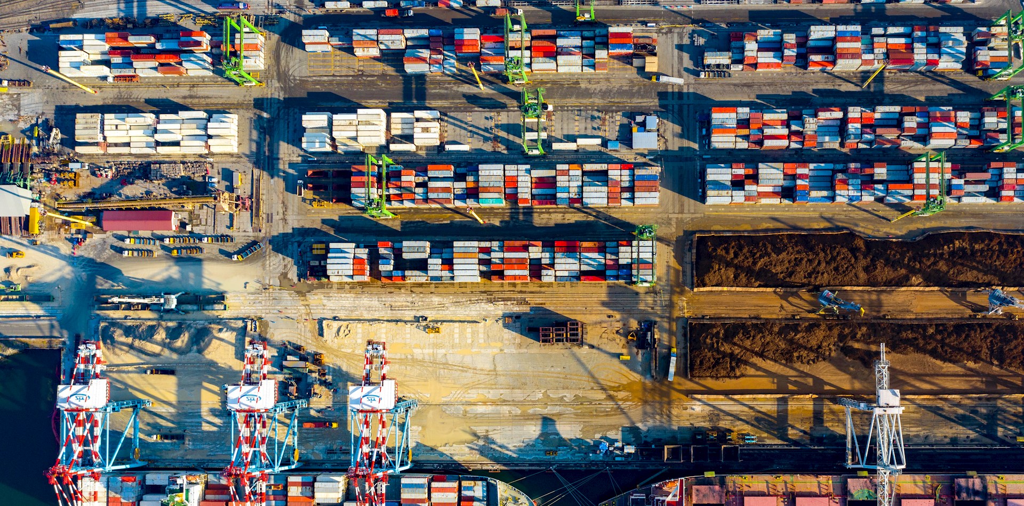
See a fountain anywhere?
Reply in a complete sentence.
No, I can't see a single fountain in this photo.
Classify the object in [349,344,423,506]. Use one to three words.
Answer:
container crane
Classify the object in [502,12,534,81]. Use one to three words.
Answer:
container crane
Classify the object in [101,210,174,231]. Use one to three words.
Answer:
shed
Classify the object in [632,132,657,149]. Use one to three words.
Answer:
shed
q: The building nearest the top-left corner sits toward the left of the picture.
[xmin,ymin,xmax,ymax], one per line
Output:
[0,184,38,218]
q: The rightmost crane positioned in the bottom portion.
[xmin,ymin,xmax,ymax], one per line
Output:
[984,291,1024,320]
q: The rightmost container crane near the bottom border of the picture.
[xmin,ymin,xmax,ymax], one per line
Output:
[836,344,907,506]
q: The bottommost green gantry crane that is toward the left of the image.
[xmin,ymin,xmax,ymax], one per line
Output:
[364,154,400,216]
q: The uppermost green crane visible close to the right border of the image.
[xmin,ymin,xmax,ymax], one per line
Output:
[985,8,1024,79]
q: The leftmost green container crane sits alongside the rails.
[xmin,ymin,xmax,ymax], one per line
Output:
[223,15,264,81]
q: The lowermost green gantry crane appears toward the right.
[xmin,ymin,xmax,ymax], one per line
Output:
[630,223,660,287]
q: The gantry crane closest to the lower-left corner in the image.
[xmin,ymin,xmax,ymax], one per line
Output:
[52,343,154,506]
